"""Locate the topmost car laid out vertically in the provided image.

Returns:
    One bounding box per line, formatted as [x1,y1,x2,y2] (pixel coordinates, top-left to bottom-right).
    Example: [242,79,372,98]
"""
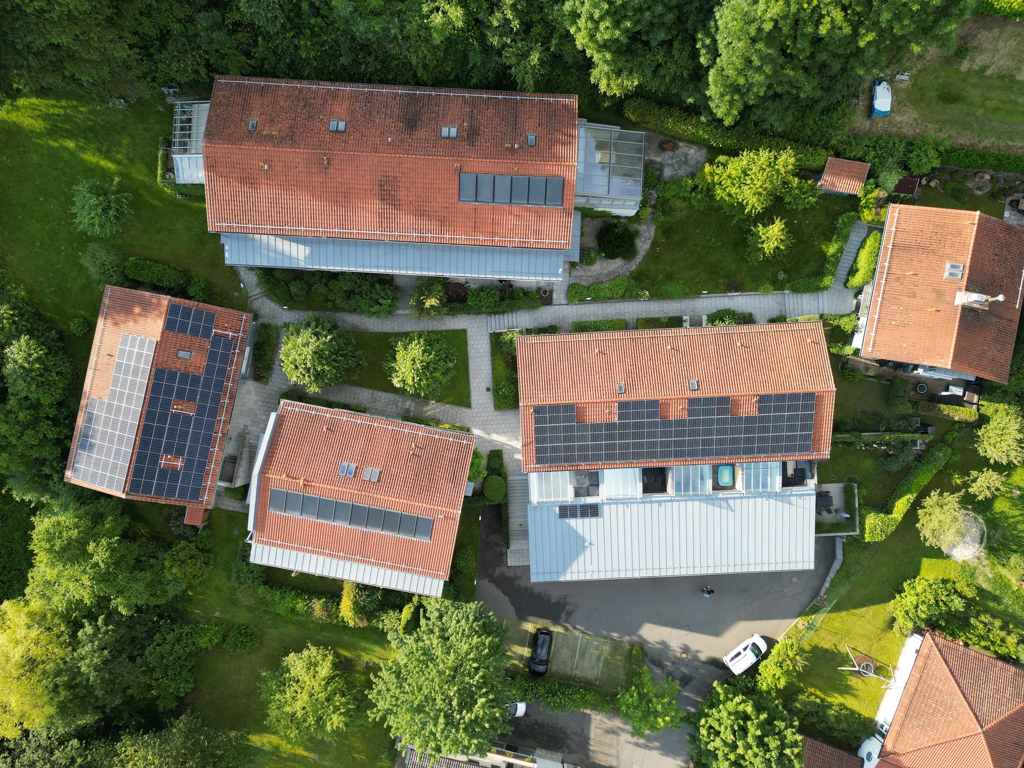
[528,626,553,676]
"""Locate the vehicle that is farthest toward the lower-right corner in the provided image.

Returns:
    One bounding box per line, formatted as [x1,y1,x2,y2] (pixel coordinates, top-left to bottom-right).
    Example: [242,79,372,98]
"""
[721,633,766,677]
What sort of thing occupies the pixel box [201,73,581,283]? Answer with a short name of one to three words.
house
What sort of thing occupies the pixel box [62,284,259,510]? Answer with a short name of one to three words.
house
